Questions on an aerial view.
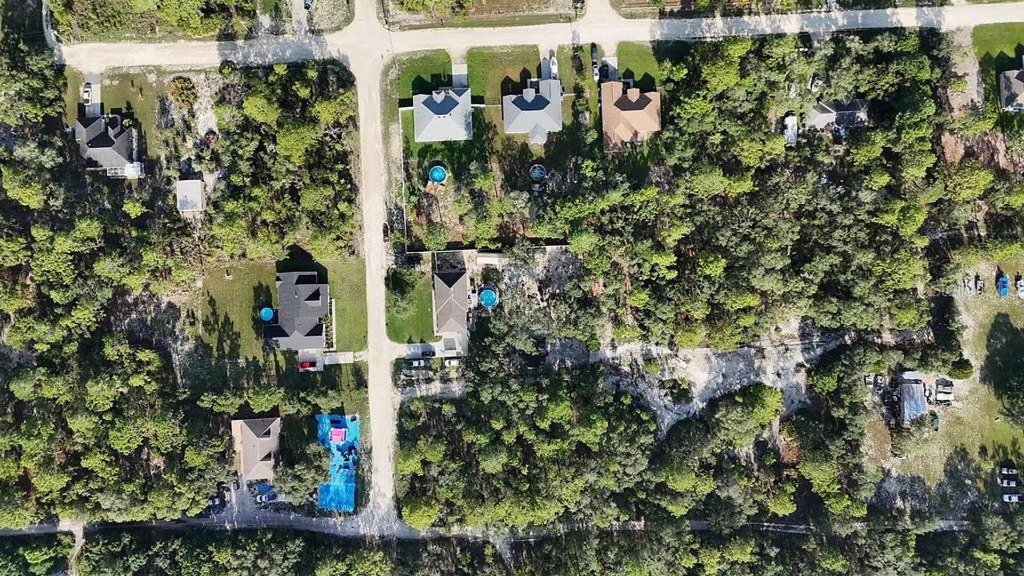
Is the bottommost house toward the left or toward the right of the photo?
left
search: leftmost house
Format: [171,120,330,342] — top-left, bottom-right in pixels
[75,116,137,168]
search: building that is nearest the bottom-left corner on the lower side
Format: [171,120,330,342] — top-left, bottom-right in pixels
[240,418,282,480]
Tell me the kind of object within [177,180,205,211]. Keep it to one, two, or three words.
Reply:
shed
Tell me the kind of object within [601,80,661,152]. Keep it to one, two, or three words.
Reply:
house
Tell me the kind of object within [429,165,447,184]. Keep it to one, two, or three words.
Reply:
swimming pool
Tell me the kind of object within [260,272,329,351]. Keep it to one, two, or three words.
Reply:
house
